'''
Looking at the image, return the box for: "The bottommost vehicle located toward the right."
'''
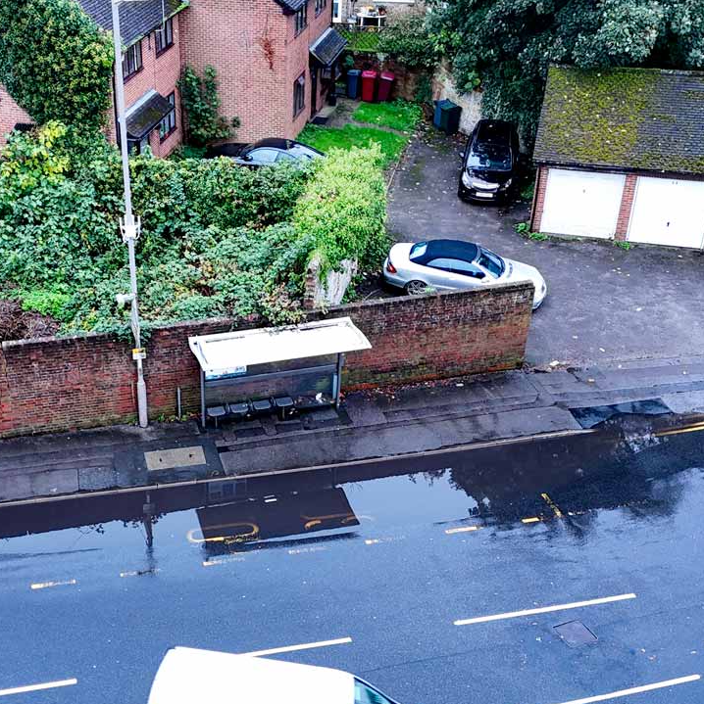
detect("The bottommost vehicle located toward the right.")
[382,235,549,301]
